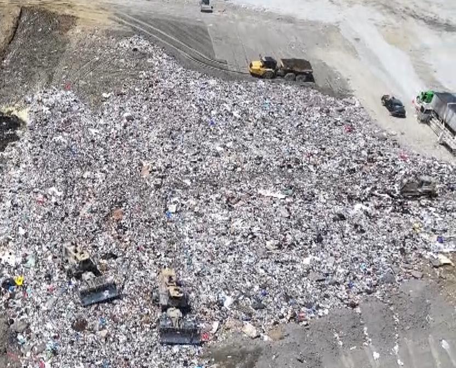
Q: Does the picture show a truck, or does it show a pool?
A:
truck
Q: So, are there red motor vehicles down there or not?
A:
No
